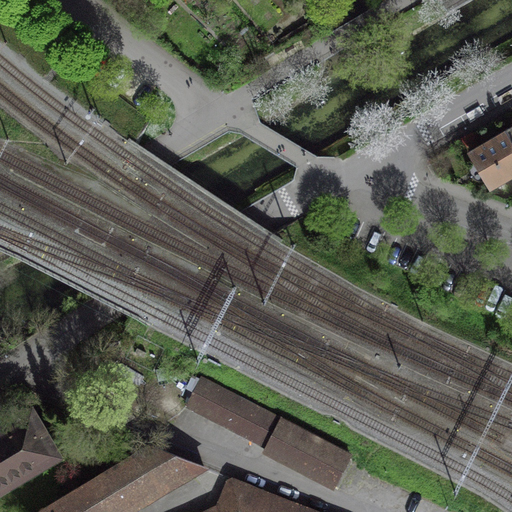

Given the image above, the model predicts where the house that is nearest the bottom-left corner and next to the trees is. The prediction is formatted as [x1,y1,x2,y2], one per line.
[0,407,62,497]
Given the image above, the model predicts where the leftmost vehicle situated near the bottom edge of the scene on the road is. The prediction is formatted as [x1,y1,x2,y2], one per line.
[244,473,267,488]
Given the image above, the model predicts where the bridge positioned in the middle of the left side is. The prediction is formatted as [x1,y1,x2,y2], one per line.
[0,241,153,326]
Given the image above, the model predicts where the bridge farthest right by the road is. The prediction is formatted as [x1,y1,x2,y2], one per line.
[242,122,316,168]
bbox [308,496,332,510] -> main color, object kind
black car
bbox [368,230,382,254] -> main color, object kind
white car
